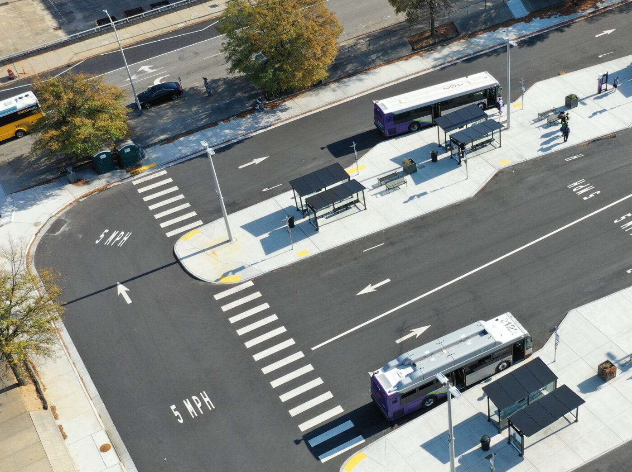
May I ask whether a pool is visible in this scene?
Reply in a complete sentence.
No, no pool is visible in the view.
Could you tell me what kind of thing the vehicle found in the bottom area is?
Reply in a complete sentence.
I'd identify the vehicle found in the bottom area as a bus.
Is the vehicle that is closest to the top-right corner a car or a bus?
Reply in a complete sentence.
Specifically, the vehicle that is closest to the top-right corner is a bus.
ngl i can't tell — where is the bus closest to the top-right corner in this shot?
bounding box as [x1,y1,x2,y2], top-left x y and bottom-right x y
[368,69,502,137]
